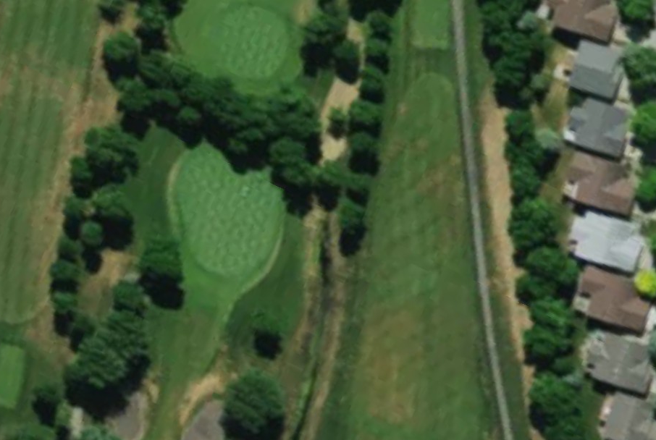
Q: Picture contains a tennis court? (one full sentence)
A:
No, there appears to be no tennis court in this shot.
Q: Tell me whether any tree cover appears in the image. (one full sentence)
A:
Yes, some tree cover is visible.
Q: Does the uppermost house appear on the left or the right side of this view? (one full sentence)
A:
The uppermost house is on the right side of the image.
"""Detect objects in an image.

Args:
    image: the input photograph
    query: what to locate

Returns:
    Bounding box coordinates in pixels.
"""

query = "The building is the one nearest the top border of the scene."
[544,0,620,48]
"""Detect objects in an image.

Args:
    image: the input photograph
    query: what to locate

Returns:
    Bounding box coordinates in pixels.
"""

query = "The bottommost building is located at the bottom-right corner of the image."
[603,394,656,440]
